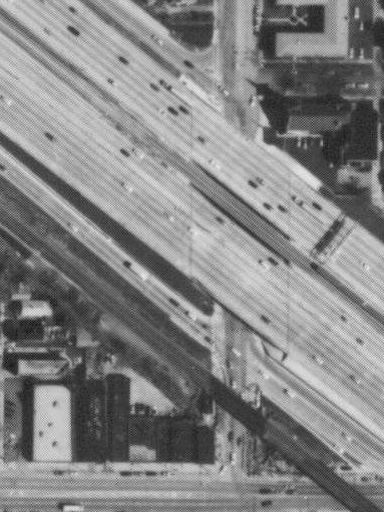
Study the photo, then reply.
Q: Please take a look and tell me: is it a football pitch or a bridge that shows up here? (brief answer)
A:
bridge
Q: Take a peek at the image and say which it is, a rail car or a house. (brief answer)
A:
house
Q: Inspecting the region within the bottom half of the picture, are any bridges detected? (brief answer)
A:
Yes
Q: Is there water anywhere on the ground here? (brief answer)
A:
No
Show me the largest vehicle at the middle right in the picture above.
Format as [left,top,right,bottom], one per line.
[300,202,332,230]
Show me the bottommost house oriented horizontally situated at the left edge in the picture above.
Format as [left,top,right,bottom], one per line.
[18,359,68,377]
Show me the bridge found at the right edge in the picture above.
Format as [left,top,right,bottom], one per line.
[300,448,370,512]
